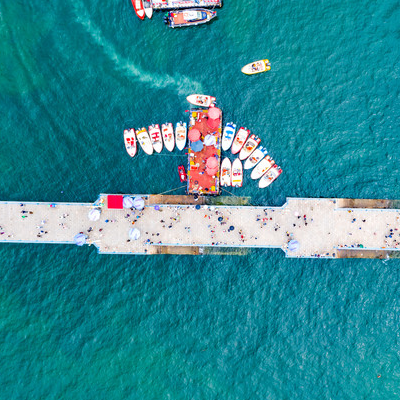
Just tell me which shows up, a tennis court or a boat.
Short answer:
boat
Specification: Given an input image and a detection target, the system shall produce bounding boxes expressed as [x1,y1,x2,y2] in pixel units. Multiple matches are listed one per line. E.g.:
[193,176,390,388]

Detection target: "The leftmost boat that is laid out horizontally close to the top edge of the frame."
[167,7,218,28]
